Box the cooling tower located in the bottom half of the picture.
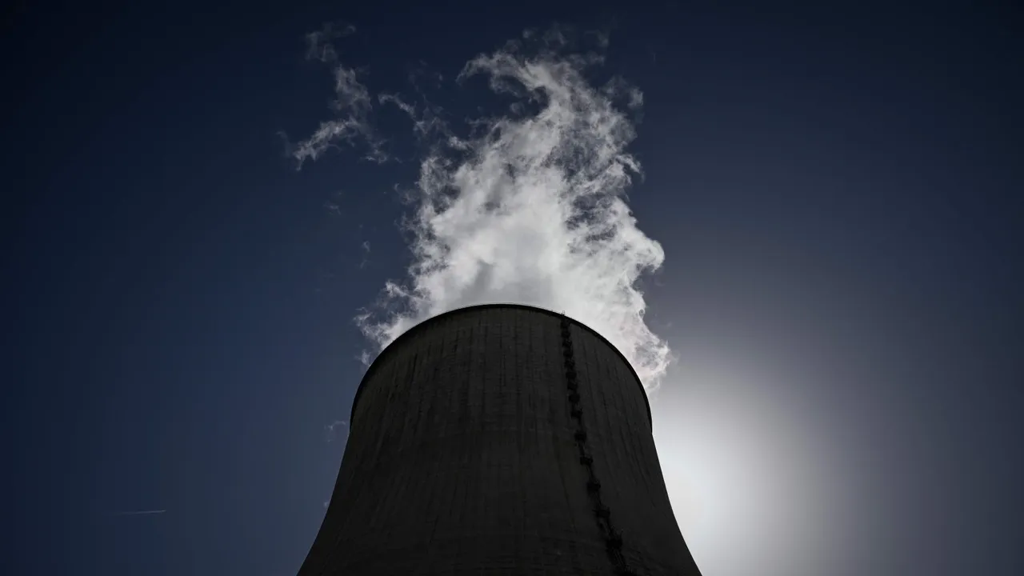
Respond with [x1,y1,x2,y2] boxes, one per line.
[298,302,701,576]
